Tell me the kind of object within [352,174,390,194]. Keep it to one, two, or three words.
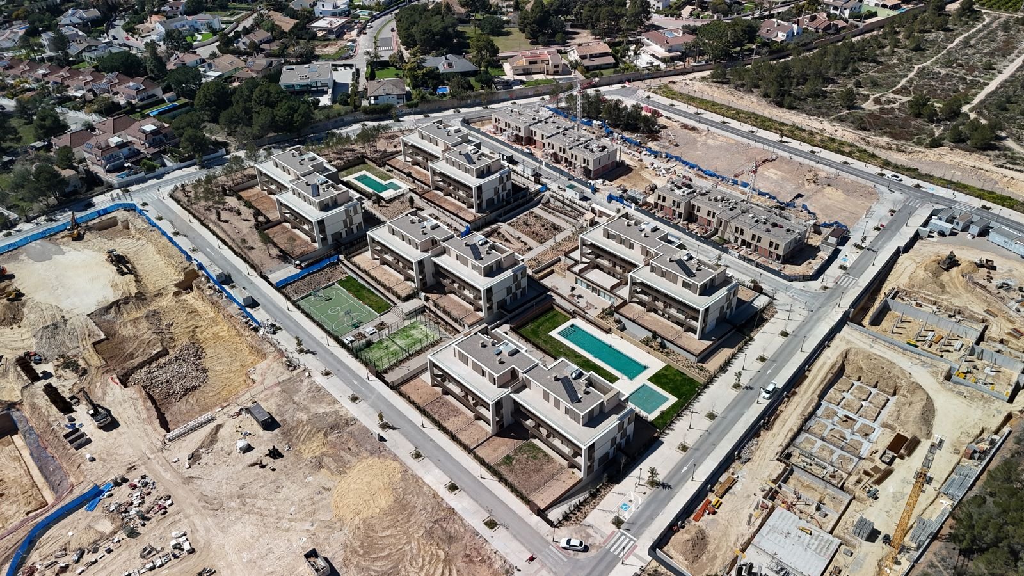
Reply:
swimming pool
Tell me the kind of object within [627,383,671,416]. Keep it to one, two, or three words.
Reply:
swimming pool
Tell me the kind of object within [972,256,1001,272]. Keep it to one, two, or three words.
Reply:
work vehicle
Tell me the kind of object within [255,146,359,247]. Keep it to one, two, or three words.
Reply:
building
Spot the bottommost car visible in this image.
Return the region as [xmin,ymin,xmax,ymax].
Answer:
[560,538,584,551]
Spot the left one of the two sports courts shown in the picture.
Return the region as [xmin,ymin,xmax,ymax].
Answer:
[299,283,380,336]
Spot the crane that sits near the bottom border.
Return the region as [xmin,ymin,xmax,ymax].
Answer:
[873,431,946,576]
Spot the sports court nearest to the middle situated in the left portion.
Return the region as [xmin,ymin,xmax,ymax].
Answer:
[356,307,441,369]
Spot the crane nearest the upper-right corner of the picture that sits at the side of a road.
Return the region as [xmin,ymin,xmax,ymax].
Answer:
[680,149,773,202]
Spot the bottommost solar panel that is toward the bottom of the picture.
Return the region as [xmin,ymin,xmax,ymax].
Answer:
[558,377,582,400]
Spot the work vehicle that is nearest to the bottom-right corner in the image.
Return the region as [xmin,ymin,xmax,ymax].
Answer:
[865,478,886,500]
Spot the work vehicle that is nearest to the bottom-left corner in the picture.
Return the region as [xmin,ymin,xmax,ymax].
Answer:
[81,388,112,426]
